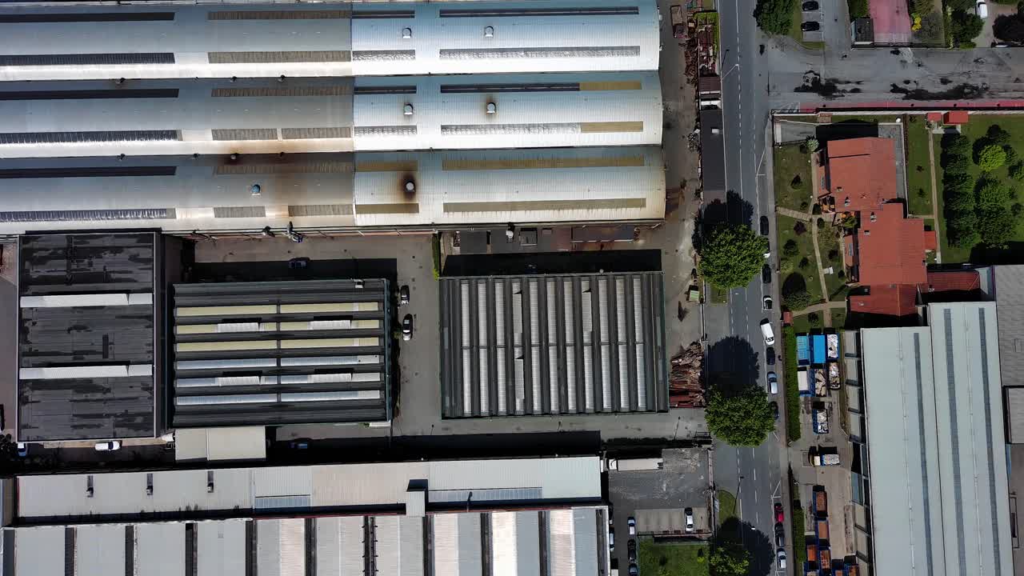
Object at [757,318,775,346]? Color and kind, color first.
white vehicle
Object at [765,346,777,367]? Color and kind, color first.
black vehicle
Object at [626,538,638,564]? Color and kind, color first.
black vehicle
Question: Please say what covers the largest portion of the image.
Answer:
buildings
